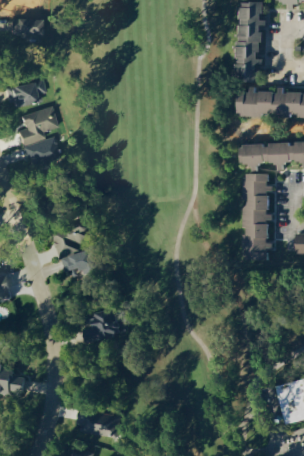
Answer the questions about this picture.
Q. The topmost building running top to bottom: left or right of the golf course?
on the right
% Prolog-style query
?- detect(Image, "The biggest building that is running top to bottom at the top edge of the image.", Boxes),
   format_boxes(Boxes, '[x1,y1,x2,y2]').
[233,1,266,84]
